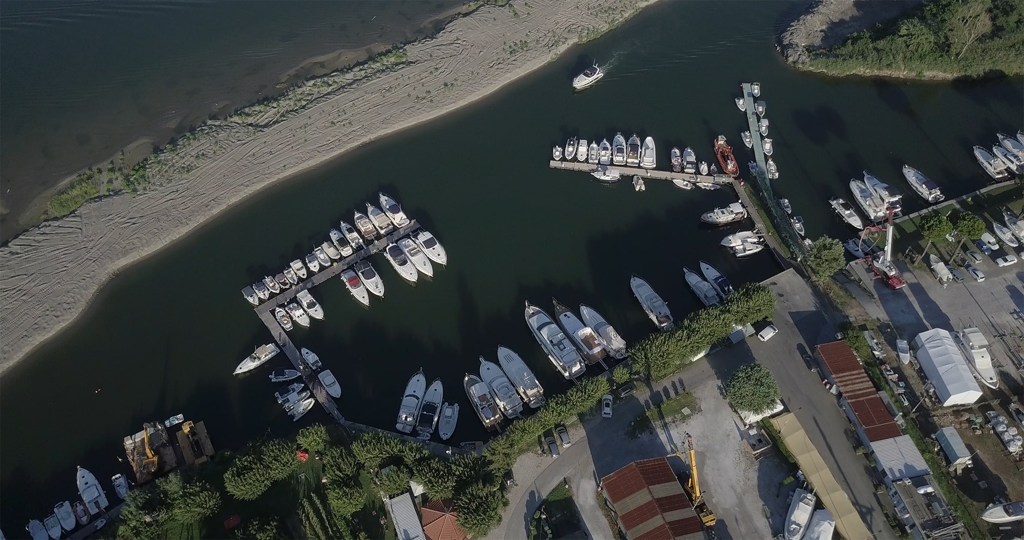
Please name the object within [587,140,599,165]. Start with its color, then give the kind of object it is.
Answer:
white boat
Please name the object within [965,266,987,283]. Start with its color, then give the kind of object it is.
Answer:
gray car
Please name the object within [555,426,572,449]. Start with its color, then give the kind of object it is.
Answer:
gray car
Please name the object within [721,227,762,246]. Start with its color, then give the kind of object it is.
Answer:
white boat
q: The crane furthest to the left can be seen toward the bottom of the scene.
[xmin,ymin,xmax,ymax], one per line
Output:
[678,434,720,530]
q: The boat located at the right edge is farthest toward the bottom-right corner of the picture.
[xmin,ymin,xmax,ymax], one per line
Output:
[981,498,1024,529]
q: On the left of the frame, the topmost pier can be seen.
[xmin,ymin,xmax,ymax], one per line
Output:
[255,219,422,317]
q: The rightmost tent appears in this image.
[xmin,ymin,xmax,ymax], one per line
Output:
[912,328,982,404]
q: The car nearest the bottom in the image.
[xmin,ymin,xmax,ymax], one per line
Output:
[500,466,517,490]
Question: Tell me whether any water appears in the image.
Yes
